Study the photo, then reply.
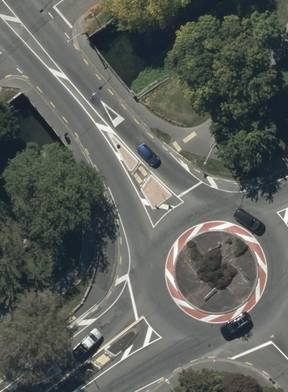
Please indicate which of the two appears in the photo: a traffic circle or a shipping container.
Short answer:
traffic circle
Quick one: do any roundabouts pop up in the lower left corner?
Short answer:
No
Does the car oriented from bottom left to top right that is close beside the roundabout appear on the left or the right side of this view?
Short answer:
right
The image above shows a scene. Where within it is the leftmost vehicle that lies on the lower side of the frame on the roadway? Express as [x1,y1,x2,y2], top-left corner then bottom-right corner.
[72,328,102,358]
